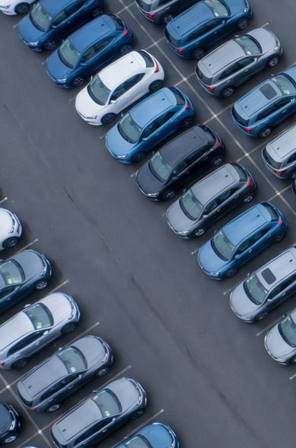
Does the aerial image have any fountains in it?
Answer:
No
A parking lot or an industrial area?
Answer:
parking lot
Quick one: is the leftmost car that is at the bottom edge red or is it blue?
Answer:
blue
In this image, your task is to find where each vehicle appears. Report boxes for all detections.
[228,68,296,139]
[264,308,296,364]
[193,29,284,100]
[0,207,25,254]
[76,50,166,124]
[166,163,258,239]
[18,0,107,50]
[12,334,116,417]
[133,0,201,26]
[0,400,27,448]
[0,250,56,317]
[107,88,196,162]
[115,422,183,448]
[163,0,253,62]
[0,292,84,374]
[137,125,227,200]
[259,125,296,182]
[46,14,137,87]
[46,376,151,448]
[229,245,296,322]
[199,202,289,279]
